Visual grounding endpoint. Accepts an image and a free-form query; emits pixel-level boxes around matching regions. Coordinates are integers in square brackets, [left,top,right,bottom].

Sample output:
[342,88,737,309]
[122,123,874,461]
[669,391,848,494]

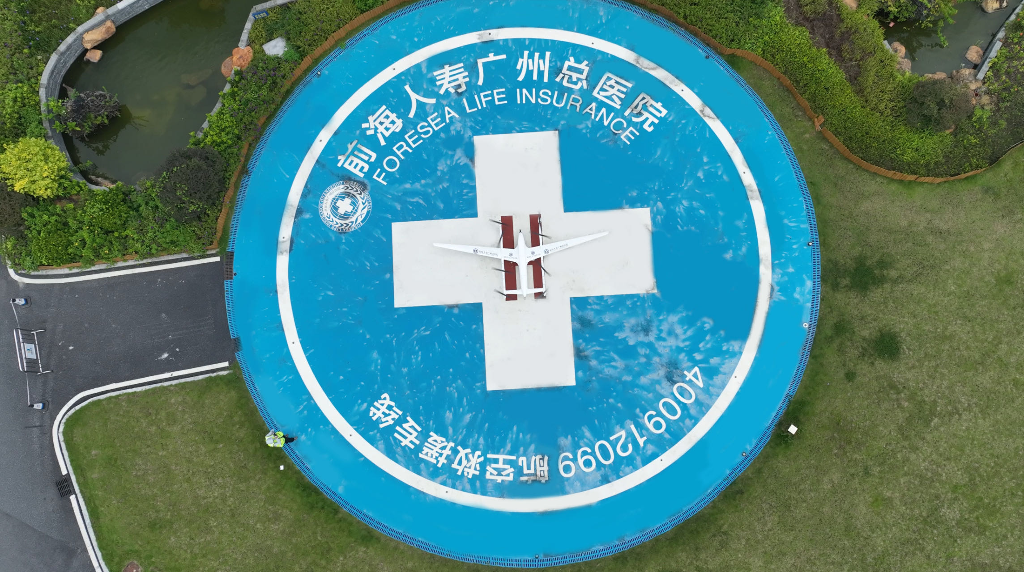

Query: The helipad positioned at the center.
[236,0,812,558]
